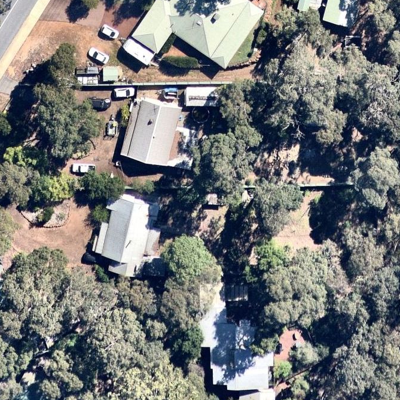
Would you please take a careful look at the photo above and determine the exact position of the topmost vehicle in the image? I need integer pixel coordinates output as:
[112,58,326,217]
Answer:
[100,24,119,38]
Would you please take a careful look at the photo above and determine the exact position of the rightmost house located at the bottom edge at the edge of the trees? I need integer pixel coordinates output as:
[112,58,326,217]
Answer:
[199,297,273,390]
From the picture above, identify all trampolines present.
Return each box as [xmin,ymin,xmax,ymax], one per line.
[193,106,211,124]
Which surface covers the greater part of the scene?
trees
